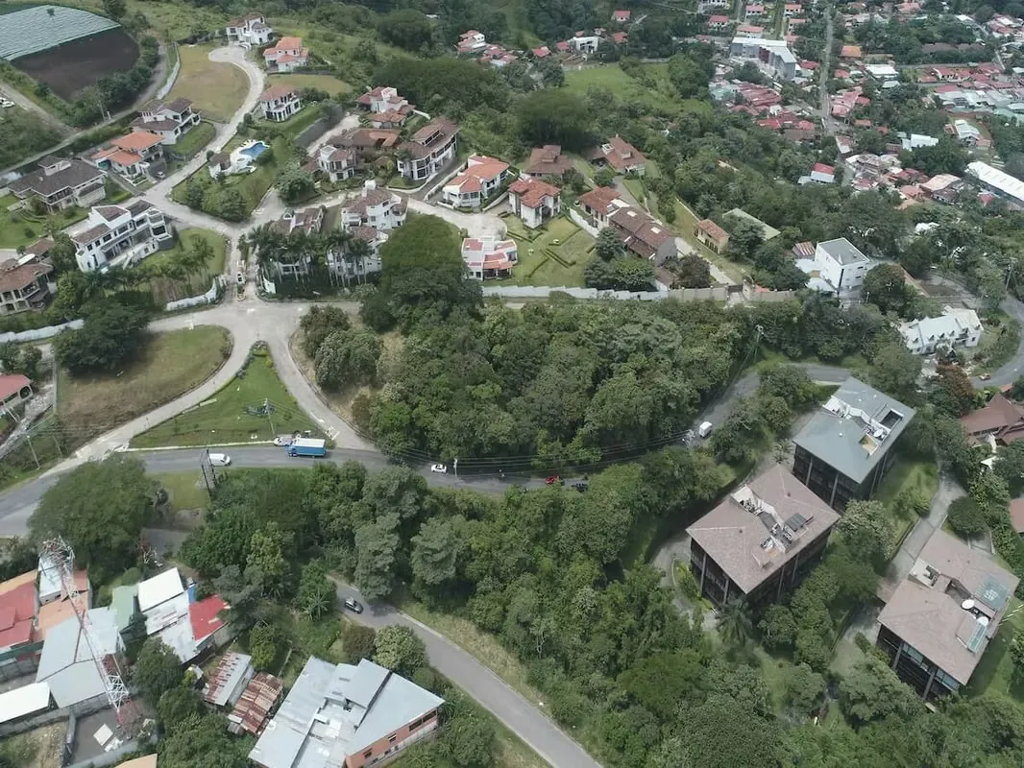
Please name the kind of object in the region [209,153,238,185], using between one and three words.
building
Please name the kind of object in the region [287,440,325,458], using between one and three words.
vehicle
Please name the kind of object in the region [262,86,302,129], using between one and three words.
house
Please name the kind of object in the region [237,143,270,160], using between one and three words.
swimming pool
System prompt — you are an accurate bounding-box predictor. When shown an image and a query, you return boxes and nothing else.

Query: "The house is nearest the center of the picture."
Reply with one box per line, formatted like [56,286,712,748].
[465,236,516,279]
